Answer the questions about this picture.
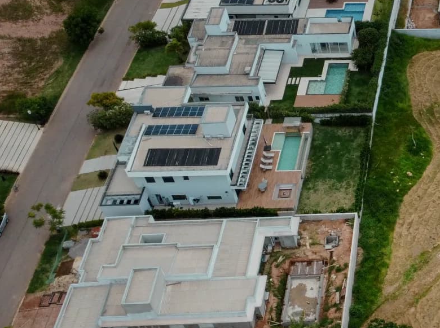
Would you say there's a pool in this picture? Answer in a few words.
Yes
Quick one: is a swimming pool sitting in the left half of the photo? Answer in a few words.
No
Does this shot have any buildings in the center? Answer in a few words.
Yes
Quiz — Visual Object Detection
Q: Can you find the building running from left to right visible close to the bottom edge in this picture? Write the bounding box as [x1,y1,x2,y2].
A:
[56,216,304,328]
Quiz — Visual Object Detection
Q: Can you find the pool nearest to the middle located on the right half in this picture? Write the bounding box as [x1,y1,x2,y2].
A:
[272,133,310,171]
